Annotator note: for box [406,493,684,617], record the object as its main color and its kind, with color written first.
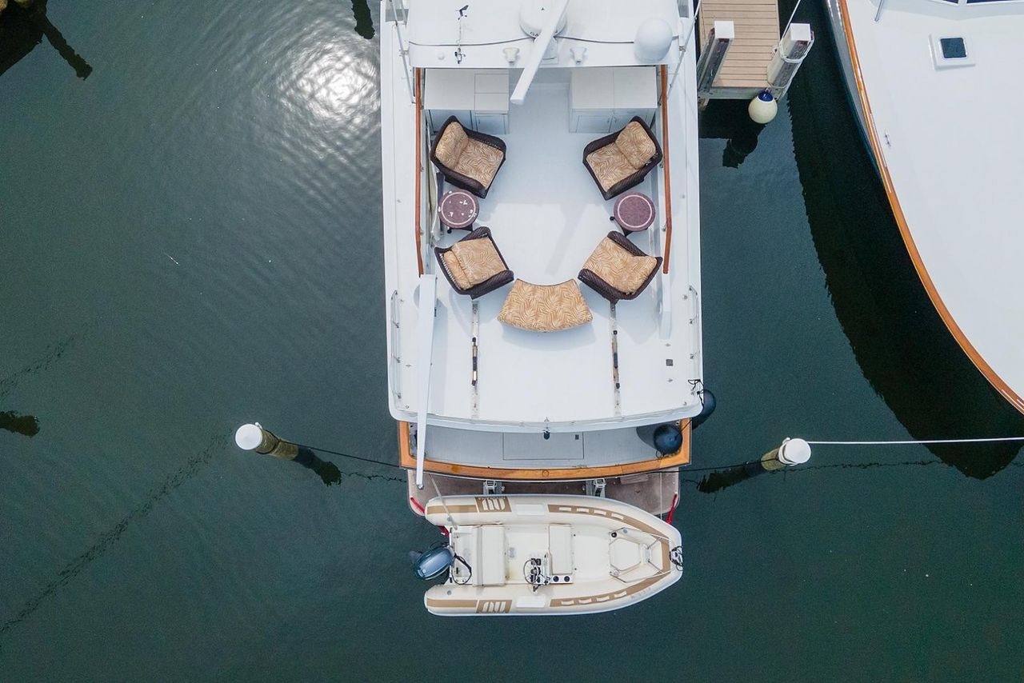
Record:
white boat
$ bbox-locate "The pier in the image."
[695,0,779,120]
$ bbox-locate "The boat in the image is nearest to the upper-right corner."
[809,0,1024,416]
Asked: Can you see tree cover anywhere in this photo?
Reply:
No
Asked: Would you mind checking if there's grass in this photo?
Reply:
No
